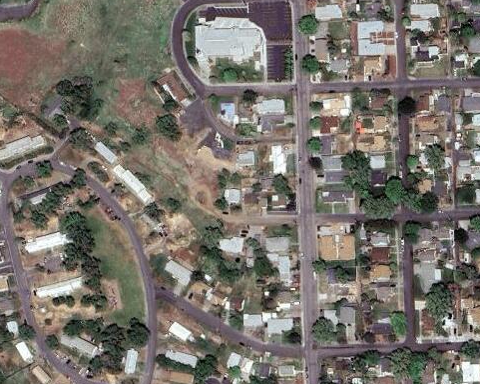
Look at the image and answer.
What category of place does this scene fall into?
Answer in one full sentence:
It's a residential area.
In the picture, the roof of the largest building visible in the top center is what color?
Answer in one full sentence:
The color of the roof on the largest building visible in the top center is white.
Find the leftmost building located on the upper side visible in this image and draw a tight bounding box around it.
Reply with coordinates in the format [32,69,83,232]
[0,139,32,165]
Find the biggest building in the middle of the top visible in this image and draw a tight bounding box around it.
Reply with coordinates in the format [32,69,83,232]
[196,17,265,64]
